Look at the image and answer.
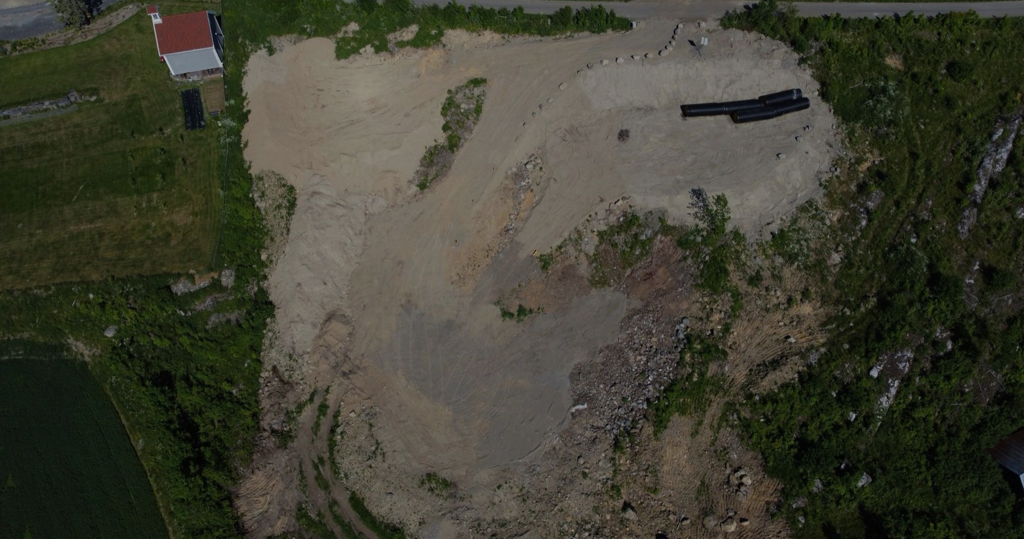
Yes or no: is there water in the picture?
No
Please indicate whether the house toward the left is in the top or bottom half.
top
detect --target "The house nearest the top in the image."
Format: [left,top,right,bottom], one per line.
[150,0,225,86]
